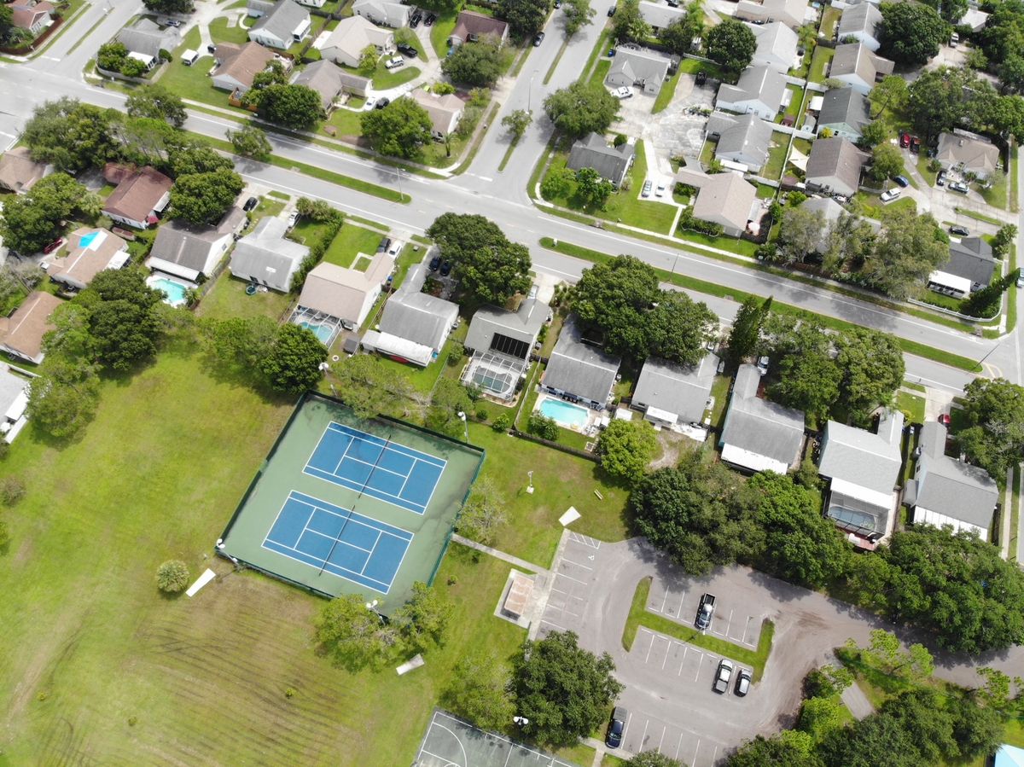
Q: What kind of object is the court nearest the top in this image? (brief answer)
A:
tennis court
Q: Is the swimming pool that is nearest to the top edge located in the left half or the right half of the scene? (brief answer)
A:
left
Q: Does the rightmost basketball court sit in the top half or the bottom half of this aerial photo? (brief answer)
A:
bottom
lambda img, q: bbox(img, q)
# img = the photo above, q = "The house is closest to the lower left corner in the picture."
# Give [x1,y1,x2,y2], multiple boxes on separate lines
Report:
[0,372,43,440]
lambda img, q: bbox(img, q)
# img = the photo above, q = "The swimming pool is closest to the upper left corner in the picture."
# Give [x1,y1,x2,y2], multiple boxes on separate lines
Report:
[151,270,198,307]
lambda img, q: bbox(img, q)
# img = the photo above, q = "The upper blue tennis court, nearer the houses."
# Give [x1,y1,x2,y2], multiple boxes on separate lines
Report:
[269,397,479,534]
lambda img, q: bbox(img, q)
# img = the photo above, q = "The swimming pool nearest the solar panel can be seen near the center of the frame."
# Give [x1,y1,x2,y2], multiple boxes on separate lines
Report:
[462,352,526,402]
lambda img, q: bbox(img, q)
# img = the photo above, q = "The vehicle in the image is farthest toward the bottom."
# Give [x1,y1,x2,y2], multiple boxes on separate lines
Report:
[606,706,626,750]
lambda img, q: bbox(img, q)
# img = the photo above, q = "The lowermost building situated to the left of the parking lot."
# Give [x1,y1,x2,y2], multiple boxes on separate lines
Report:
[504,575,534,616]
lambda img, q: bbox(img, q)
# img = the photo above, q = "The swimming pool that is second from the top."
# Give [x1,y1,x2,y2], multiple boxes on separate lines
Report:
[289,305,340,347]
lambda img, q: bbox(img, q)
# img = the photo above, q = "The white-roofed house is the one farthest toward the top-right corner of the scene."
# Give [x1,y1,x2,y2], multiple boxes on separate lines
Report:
[958,7,978,36]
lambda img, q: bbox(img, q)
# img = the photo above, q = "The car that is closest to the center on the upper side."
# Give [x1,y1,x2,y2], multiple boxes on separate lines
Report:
[526,283,540,299]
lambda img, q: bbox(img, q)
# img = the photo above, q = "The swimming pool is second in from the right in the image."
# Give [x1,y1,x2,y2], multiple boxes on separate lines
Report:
[531,391,615,437]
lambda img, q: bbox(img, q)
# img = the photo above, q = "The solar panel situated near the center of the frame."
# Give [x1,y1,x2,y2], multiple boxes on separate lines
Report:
[488,331,530,361]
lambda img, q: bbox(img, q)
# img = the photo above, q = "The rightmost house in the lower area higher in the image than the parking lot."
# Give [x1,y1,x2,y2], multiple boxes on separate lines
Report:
[912,419,998,533]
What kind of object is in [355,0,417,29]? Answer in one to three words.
house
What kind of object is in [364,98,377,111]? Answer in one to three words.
vehicle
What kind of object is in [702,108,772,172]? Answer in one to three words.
house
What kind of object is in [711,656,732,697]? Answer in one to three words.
truck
